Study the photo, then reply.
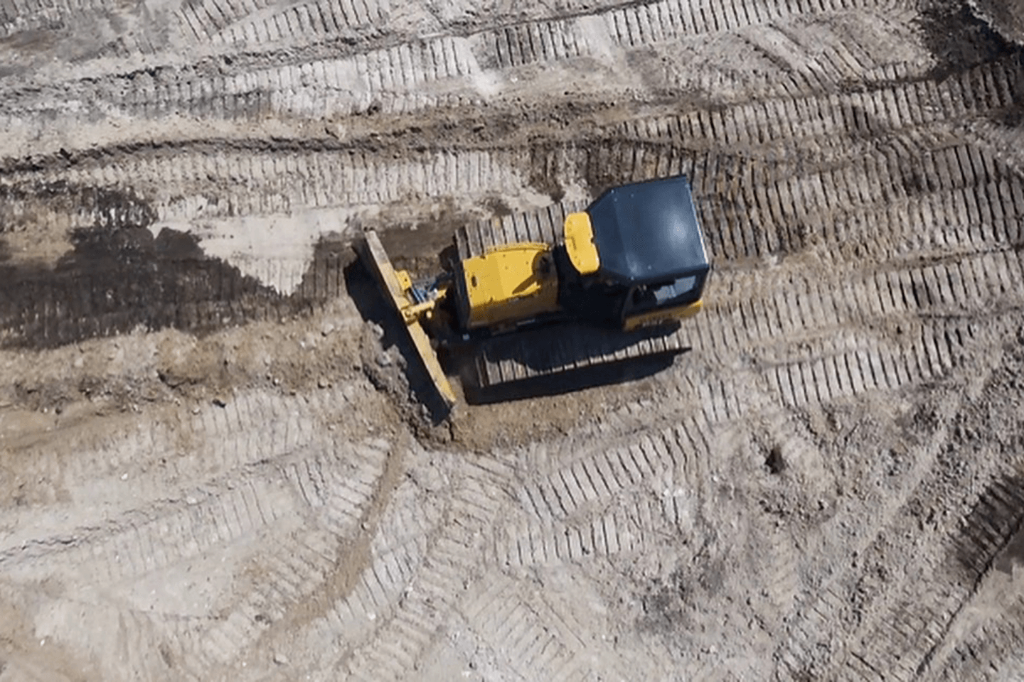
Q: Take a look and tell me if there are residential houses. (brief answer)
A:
No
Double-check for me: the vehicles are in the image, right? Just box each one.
[364,176,713,418]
